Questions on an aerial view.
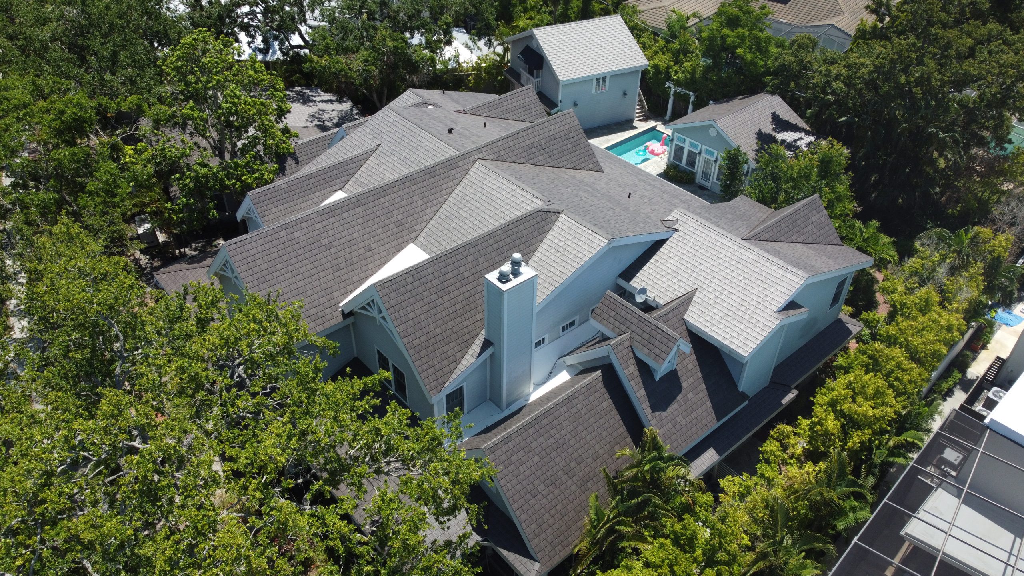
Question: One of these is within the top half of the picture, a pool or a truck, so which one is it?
pool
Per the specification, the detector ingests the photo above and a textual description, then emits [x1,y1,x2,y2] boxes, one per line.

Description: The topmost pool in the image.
[602,121,672,166]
